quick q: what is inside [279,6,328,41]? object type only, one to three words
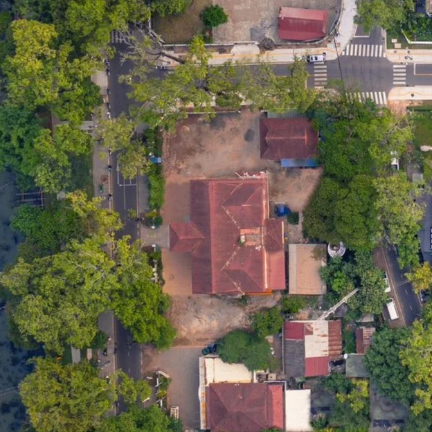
shed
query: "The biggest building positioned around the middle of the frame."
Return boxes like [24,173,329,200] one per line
[169,174,286,297]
